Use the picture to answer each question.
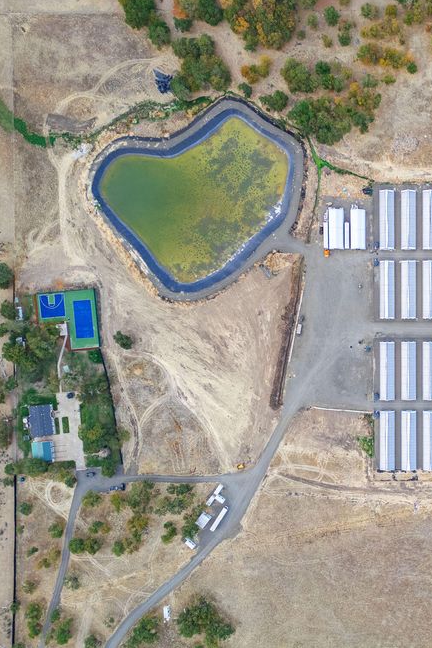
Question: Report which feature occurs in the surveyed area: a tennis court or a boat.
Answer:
tennis court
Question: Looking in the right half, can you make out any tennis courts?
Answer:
No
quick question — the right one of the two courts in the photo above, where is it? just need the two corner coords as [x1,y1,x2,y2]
[66,290,96,350]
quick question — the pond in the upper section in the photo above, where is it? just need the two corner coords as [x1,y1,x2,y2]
[90,96,306,293]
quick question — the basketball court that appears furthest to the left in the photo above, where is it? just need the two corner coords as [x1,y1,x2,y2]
[37,291,69,324]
